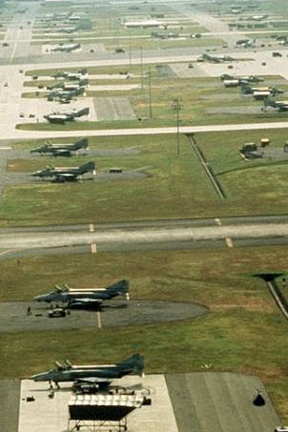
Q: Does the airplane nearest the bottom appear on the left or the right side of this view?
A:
left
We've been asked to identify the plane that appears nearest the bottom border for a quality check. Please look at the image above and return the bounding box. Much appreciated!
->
[29,355,145,390]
